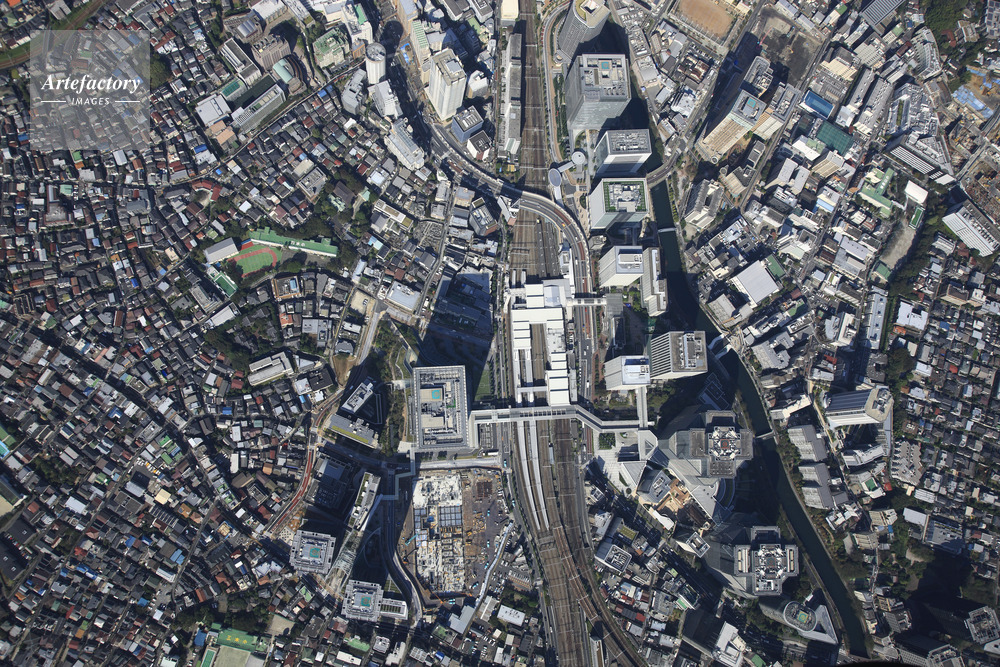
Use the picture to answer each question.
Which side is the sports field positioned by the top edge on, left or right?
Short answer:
right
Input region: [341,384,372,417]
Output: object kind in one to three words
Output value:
building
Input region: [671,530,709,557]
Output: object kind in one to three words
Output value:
building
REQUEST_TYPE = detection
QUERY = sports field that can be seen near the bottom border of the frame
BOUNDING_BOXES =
[215,646,266,667]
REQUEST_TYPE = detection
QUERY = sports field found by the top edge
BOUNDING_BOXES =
[671,0,742,51]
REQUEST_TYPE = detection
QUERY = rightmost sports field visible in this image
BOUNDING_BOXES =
[884,221,914,267]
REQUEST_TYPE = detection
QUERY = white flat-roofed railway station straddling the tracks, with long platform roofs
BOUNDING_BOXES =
[508,268,572,529]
